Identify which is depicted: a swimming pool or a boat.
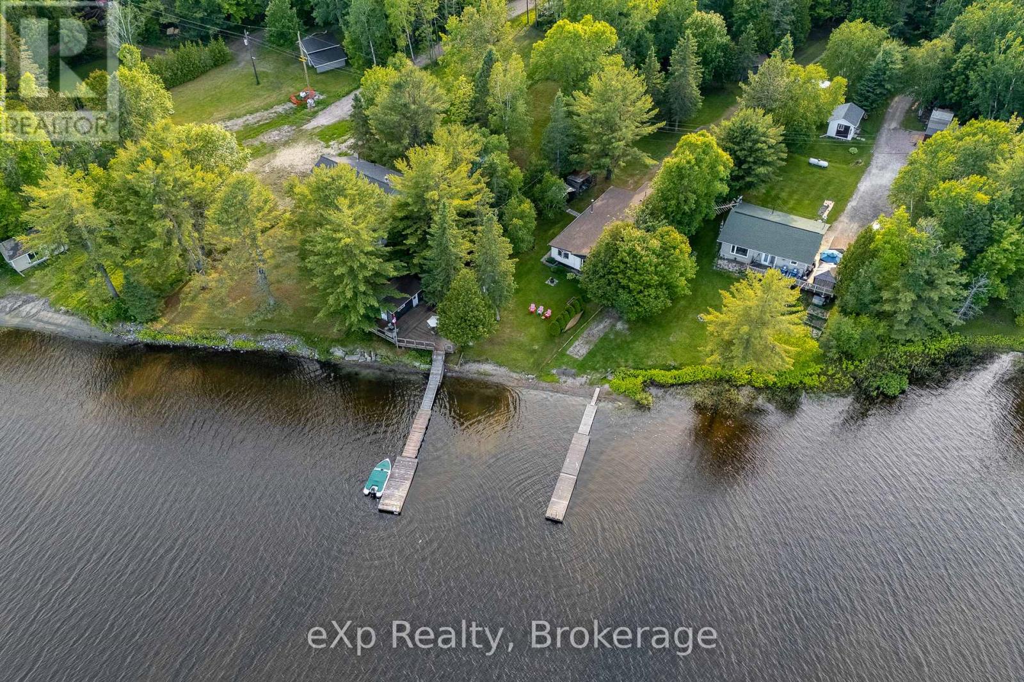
boat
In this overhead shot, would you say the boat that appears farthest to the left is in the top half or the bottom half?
bottom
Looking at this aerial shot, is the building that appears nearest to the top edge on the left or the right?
left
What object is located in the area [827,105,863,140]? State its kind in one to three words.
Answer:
shed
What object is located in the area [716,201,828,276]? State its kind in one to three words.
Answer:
house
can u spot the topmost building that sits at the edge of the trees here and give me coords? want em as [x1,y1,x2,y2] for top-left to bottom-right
[294,34,347,72]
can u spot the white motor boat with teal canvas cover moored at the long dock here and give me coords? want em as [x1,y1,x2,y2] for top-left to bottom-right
[363,458,390,501]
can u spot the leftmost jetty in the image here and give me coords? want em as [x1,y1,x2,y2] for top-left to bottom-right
[379,353,446,515]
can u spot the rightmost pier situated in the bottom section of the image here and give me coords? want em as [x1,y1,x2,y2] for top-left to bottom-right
[544,387,600,523]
